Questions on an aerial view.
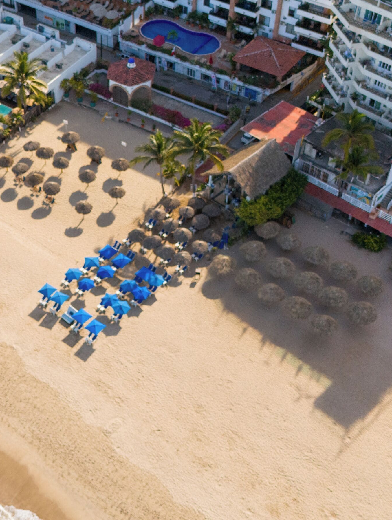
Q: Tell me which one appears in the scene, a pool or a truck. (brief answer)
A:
pool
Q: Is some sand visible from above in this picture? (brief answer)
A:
Yes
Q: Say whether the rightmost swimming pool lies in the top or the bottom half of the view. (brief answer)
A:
top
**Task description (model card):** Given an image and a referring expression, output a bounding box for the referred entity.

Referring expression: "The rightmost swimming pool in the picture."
[142,22,218,55]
